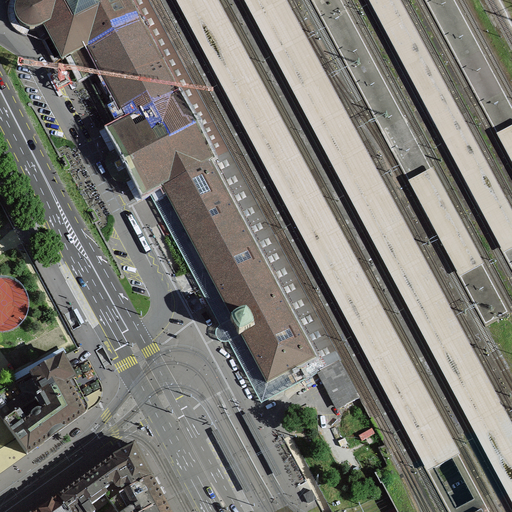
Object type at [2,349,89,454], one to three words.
building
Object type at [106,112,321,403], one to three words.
building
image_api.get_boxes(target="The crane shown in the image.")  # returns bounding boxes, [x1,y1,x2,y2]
[16,61,215,96]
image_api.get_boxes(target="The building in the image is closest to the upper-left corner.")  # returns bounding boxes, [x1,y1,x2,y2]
[5,0,50,35]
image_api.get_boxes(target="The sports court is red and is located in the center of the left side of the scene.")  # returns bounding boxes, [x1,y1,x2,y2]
[0,274,31,334]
